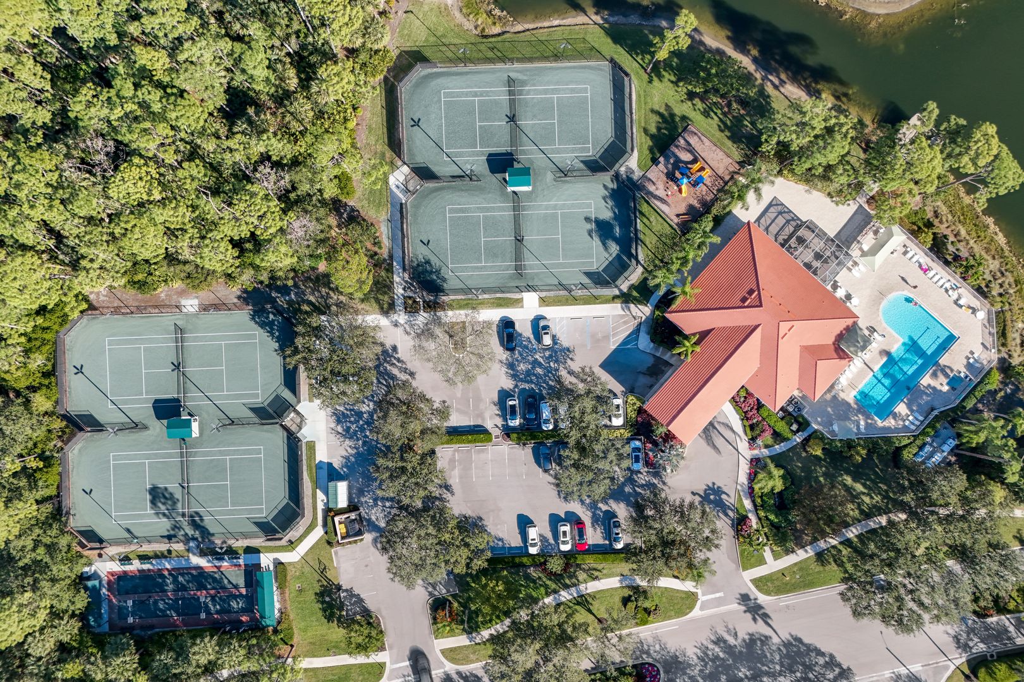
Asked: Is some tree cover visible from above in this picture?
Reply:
Yes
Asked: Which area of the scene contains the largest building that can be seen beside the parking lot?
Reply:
right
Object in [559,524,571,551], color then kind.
white vehicle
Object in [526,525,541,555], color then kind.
white car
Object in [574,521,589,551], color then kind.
red car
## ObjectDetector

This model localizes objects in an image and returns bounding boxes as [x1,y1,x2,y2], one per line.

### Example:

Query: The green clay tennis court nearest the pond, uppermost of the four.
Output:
[401,61,631,182]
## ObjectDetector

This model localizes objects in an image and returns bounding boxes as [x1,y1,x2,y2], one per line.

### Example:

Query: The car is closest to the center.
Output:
[503,320,516,350]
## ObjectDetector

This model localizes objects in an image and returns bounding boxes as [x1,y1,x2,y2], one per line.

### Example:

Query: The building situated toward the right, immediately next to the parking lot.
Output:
[643,219,859,447]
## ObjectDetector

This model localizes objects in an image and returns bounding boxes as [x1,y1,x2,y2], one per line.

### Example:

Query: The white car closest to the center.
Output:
[539,318,553,348]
